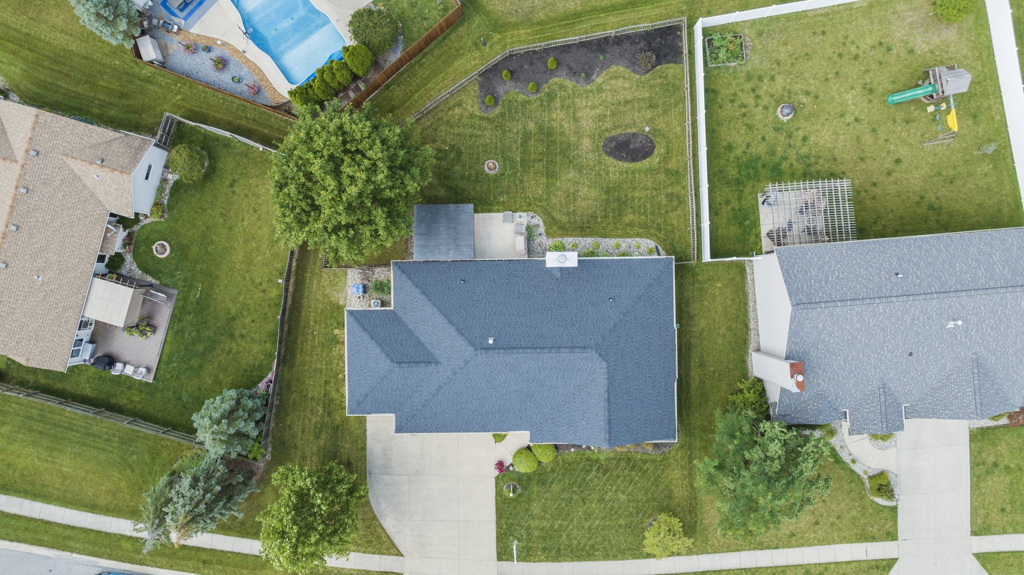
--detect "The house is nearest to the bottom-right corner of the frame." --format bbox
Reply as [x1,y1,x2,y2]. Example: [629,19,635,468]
[750,233,1024,437]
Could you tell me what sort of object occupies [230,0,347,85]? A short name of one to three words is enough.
swimming pool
